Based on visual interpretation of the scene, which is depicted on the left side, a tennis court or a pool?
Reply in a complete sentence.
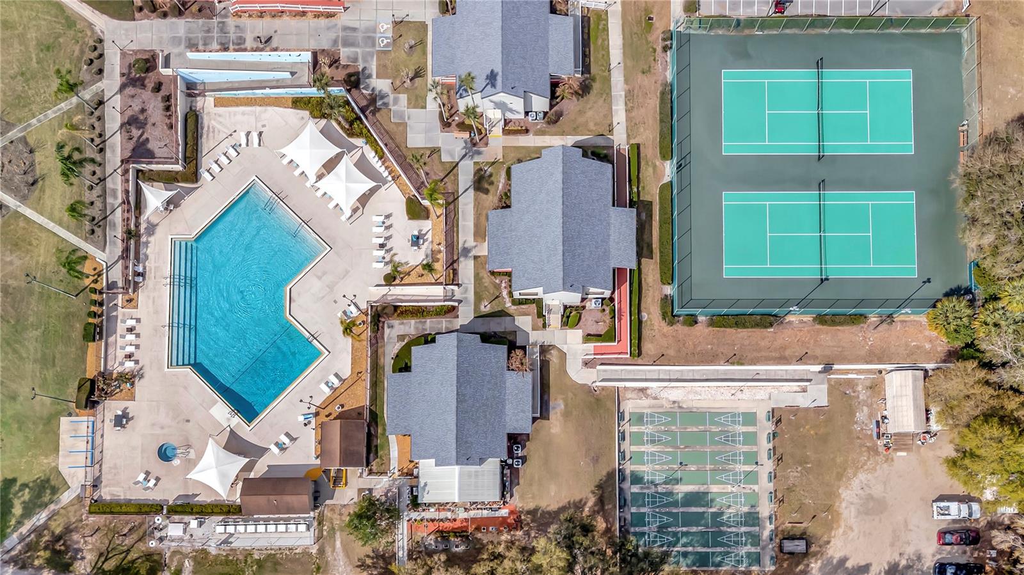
The one visible on the left side is a pool.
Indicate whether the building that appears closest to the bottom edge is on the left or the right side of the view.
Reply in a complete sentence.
It is on the left.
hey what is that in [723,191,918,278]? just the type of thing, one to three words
tennis court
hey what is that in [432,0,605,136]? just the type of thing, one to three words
building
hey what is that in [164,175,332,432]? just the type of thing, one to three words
swimming pool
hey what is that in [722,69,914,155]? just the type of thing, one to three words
tennis court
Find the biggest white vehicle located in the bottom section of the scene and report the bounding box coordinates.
[932,501,985,522]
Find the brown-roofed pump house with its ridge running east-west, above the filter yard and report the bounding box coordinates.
[241,478,320,515]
